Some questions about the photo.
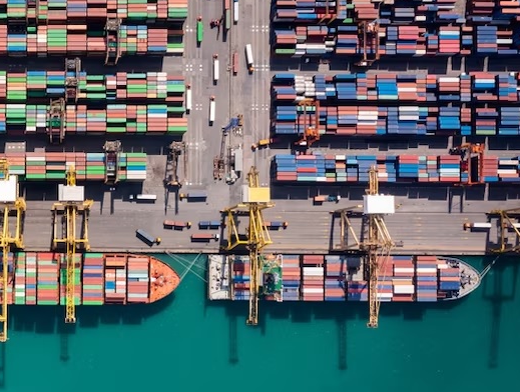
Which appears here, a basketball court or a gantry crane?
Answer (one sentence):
There is a gantry crane in the scene.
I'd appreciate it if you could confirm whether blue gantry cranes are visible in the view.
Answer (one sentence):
No, the picture doesn't show any blue gantry crane.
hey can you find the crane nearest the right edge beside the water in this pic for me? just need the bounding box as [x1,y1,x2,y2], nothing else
[477,206,520,262]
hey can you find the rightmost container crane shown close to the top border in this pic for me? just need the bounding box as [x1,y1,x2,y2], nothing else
[347,19,381,70]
